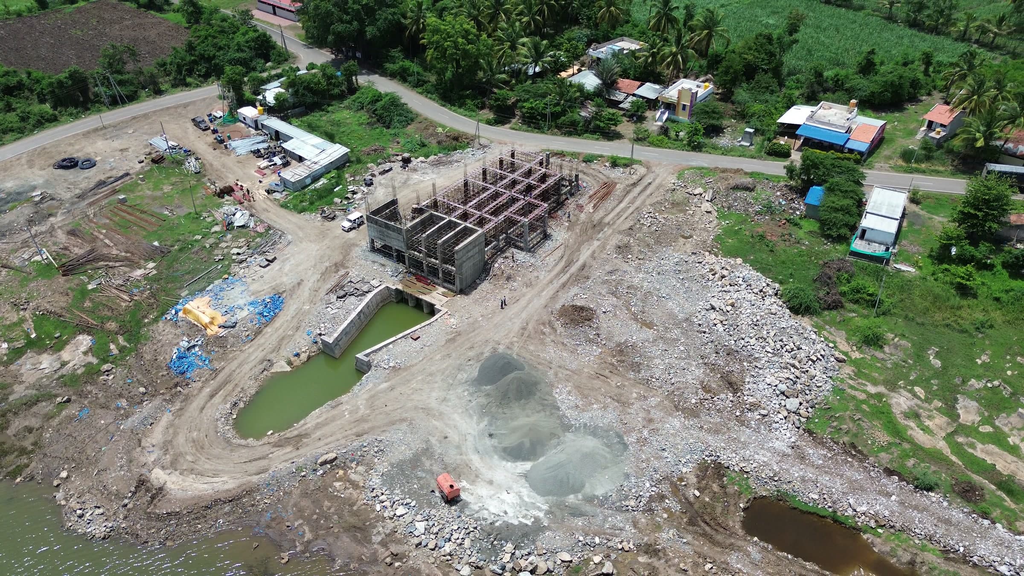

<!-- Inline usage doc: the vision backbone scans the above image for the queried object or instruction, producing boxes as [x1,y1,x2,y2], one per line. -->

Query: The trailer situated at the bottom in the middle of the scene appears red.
[435,466,465,507]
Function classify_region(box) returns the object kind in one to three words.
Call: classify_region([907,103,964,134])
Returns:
house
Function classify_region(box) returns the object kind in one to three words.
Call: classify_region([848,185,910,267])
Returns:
house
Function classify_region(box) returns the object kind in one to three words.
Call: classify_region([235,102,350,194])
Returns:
shed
